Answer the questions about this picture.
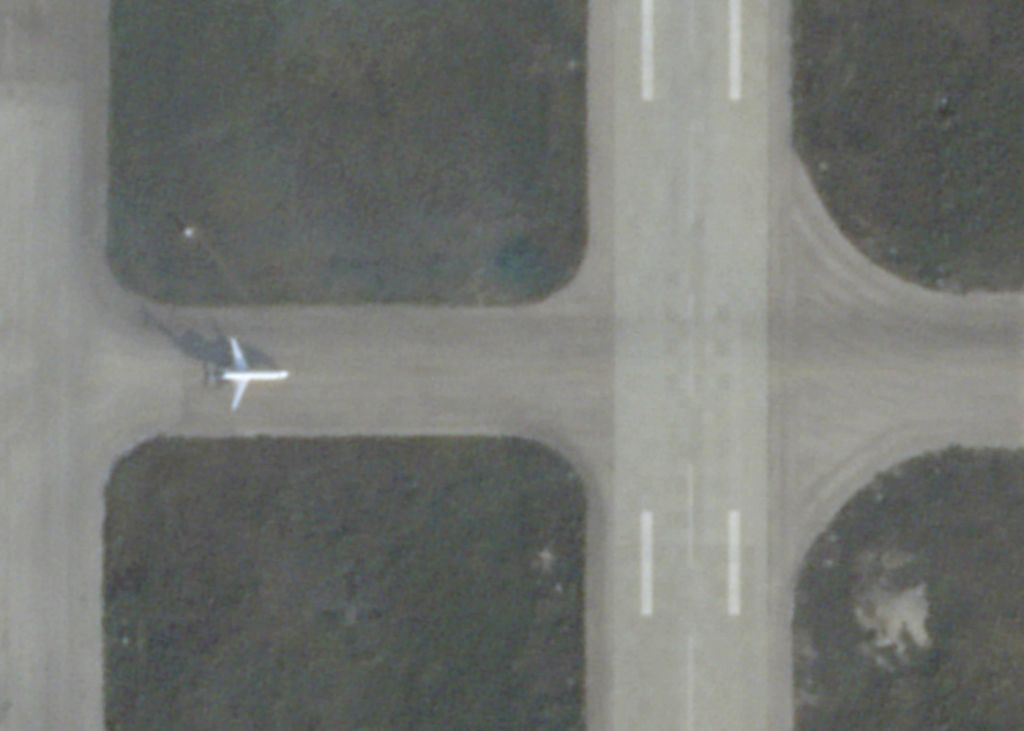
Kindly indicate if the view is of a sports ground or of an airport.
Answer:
airport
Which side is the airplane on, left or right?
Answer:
left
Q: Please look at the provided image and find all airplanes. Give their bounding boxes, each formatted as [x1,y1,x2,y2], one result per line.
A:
[202,340,288,412]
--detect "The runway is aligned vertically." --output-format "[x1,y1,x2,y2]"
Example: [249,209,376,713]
[615,0,767,731]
